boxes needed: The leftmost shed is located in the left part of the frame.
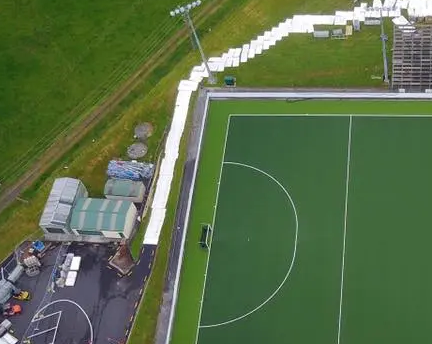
[40,176,92,243]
